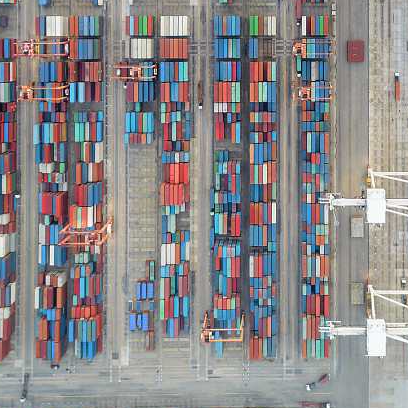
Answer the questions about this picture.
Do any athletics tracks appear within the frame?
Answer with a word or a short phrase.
No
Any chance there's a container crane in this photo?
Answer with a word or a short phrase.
Yes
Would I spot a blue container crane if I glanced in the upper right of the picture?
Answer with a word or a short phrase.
No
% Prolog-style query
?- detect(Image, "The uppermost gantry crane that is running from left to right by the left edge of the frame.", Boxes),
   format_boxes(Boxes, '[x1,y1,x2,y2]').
[16,39,71,59]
